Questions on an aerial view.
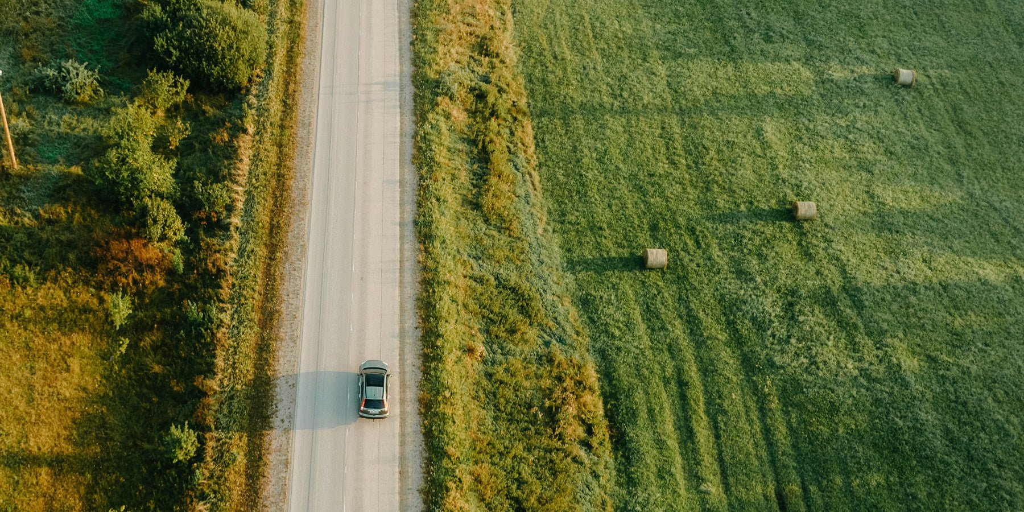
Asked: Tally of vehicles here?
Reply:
1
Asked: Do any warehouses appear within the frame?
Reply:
No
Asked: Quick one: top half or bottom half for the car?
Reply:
bottom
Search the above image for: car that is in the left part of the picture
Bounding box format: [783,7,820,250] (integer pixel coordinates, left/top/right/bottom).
[355,361,391,420]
